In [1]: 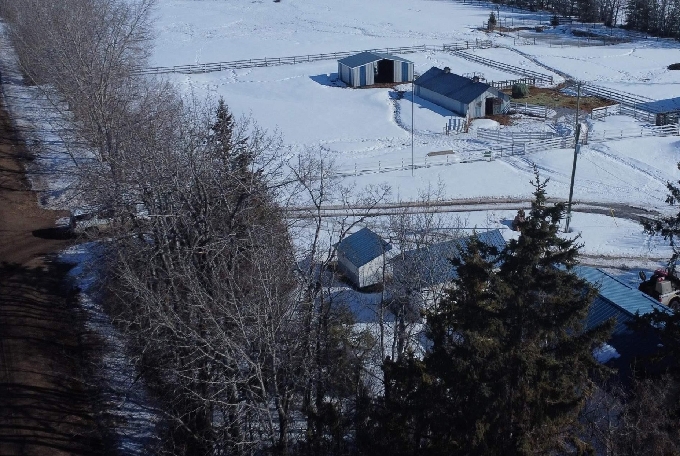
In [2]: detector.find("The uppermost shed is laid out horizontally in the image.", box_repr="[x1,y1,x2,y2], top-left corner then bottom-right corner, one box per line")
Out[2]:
[338,51,415,87]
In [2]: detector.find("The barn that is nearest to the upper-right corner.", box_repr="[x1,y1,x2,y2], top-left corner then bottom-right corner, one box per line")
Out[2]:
[419,66,511,117]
